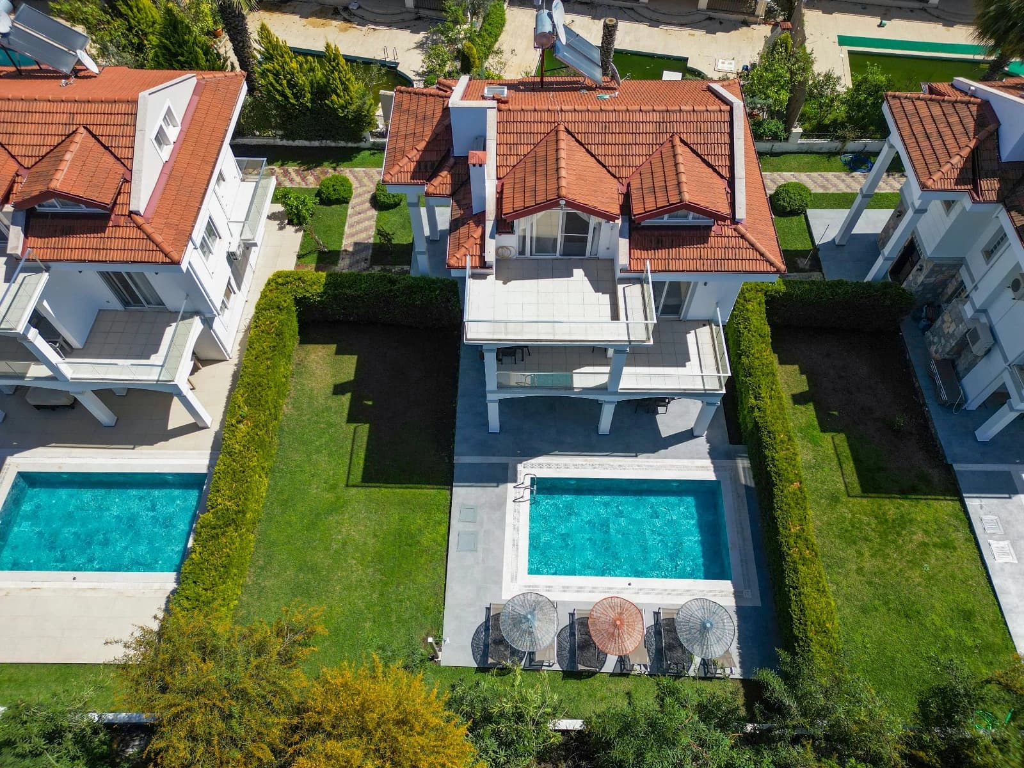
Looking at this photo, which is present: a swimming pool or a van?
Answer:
swimming pool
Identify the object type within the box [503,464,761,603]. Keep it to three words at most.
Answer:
swimming pool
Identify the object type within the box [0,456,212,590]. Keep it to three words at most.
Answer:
swimming pool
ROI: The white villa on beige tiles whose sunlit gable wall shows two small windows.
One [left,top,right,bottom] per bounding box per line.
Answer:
[0,69,278,432]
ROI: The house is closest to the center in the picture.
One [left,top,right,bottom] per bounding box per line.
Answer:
[380,72,789,440]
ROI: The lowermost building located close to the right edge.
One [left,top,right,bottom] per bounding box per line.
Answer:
[828,78,1024,445]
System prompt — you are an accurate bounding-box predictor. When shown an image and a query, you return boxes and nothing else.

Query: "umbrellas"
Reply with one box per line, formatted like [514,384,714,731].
[676,601,734,660]
[500,593,558,651]
[587,599,645,658]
